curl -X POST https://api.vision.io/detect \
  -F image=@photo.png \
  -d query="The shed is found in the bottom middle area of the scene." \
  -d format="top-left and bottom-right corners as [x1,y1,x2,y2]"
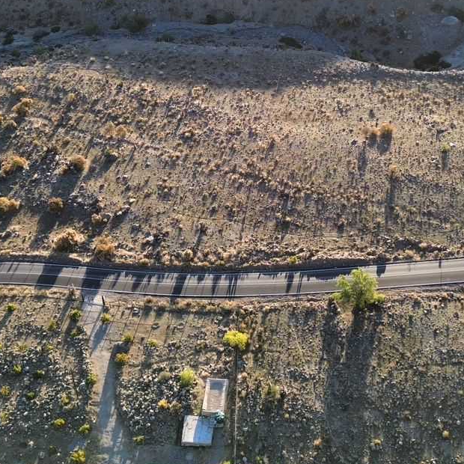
[181,414,215,453]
